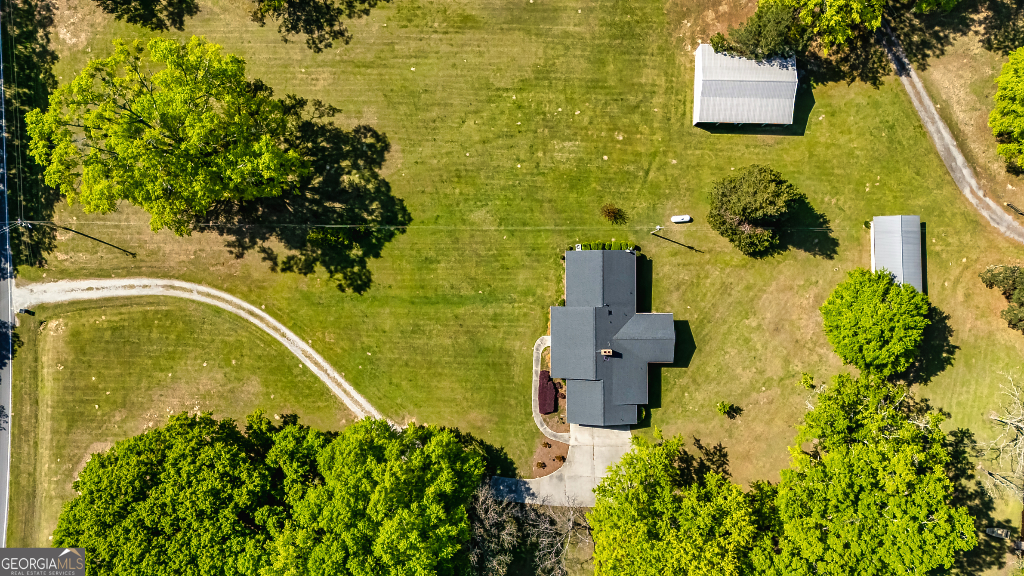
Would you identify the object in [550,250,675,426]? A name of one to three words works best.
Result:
house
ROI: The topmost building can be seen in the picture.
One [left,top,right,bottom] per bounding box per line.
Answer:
[694,42,800,127]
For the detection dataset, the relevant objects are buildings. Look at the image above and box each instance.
[870,215,921,300]
[550,250,675,426]
[694,42,800,127]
